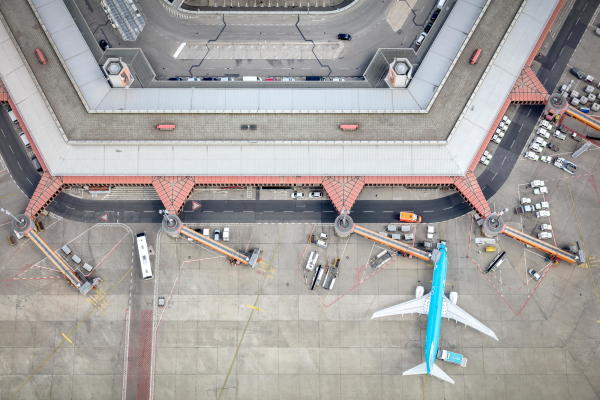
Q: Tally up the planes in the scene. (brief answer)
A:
1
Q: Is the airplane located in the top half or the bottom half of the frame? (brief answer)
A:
bottom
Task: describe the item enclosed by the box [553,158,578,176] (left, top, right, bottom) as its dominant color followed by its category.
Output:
white work vehicle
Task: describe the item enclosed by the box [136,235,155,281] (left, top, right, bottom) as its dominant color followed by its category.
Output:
white vehicle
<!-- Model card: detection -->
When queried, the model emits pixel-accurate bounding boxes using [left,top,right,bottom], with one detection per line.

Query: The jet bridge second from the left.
[162,213,261,269]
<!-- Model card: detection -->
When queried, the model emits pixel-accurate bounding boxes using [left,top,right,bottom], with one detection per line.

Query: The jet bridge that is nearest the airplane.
[334,214,441,264]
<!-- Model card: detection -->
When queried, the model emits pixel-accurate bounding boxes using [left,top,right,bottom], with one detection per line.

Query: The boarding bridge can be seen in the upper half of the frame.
[541,92,600,133]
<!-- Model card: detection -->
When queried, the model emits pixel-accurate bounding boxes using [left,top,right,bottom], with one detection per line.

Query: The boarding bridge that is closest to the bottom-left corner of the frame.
[12,214,96,296]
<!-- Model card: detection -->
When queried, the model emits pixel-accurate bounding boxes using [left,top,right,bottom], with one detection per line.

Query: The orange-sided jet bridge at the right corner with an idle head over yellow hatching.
[479,213,585,266]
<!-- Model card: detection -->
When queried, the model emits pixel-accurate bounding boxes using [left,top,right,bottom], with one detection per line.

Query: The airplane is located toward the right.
[371,242,499,384]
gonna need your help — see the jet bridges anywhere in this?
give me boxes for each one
[541,92,600,133]
[334,214,441,264]
[162,213,261,269]
[479,213,585,266]
[12,214,96,296]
